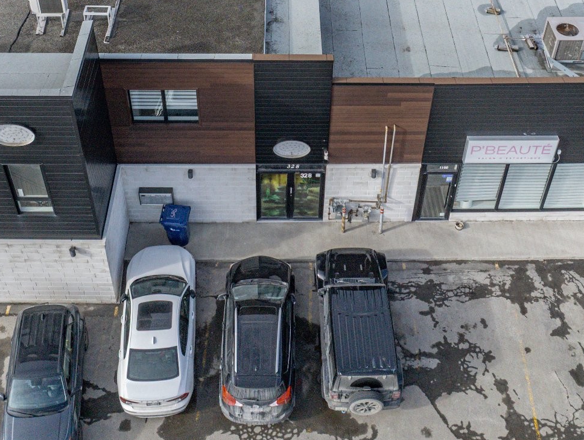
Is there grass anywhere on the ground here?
No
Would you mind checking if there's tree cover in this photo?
No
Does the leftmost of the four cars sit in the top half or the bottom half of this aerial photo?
bottom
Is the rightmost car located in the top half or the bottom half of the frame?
bottom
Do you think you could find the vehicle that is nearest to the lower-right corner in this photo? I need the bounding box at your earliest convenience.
[314,250,405,417]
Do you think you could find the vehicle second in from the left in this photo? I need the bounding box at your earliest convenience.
[111,247,197,421]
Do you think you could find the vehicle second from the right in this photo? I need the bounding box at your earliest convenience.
[214,260,301,429]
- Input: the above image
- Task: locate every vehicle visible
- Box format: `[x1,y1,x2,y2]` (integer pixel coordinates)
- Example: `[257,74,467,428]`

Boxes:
[214,260,301,429]
[111,247,197,421]
[0,300,94,440]
[314,250,405,417]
